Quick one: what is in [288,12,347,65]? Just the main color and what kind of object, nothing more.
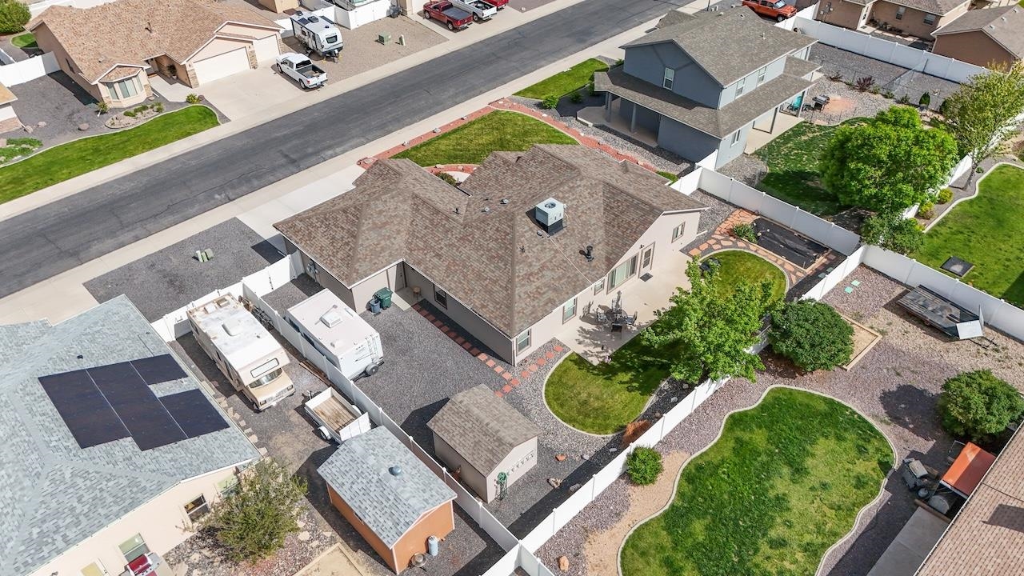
white trailer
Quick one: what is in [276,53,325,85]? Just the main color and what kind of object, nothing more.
white truck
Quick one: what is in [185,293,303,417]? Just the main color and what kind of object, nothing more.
white camper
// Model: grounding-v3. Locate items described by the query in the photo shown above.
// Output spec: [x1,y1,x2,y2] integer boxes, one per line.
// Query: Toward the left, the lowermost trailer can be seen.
[304,380,366,440]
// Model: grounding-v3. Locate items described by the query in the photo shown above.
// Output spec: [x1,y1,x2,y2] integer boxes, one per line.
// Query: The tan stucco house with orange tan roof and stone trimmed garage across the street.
[21,0,284,107]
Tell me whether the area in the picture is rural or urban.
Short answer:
urban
